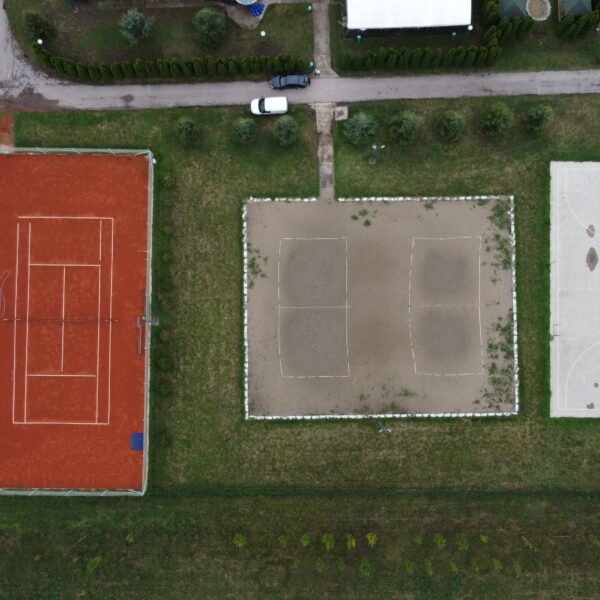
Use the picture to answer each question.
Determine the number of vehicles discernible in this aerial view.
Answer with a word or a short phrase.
2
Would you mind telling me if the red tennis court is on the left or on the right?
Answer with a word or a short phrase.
left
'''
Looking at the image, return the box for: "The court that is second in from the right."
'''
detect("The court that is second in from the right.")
[409,236,483,376]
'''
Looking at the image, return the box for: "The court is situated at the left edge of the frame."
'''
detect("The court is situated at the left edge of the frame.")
[0,153,152,490]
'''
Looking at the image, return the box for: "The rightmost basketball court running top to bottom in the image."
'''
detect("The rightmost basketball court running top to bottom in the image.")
[550,162,600,418]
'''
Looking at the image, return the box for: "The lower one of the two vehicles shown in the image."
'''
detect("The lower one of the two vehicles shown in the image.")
[252,94,288,115]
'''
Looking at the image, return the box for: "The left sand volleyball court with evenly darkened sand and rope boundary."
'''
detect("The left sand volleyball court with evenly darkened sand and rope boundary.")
[278,238,350,377]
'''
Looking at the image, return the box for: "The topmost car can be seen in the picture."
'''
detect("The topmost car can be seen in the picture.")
[269,70,308,91]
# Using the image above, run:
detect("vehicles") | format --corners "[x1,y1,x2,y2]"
[269,70,308,91]
[252,94,288,115]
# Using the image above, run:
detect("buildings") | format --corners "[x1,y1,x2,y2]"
[342,0,472,38]
[557,0,592,23]
[495,0,527,23]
